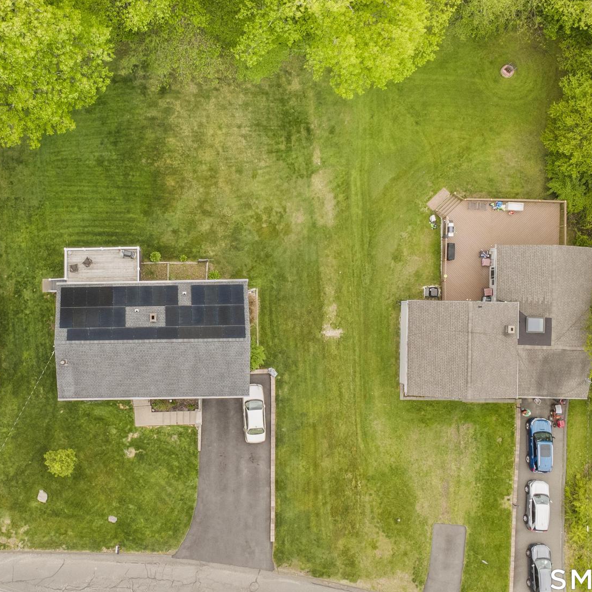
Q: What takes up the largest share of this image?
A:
grass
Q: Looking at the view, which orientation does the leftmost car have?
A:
from top to bottom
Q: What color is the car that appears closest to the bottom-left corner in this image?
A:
white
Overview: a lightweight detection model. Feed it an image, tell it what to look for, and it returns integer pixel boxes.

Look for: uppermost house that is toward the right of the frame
[398,244,592,401]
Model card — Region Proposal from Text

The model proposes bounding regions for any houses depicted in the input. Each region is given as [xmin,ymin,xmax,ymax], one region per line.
[52,279,252,403]
[398,244,592,401]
